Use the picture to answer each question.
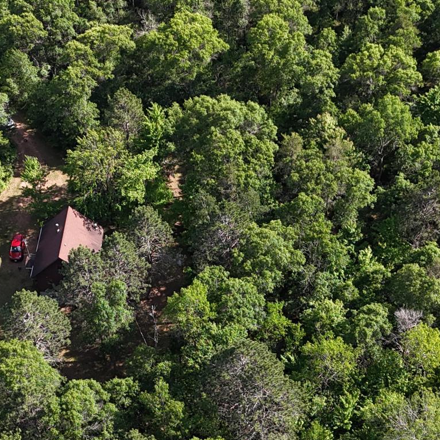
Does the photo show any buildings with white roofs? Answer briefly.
No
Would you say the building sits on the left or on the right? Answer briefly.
left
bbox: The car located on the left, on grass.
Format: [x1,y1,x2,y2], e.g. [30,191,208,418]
[8,235,25,261]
